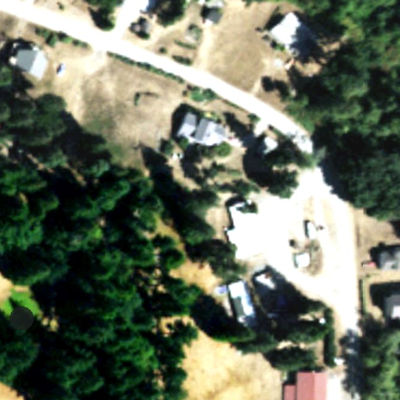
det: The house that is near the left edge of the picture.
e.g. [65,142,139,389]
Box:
[15,46,47,77]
